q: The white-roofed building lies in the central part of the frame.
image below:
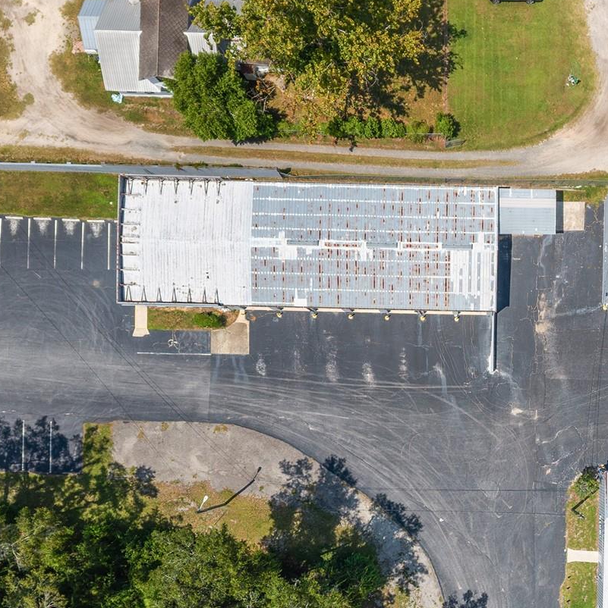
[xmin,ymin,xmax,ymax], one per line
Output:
[110,172,499,318]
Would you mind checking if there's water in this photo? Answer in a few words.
No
